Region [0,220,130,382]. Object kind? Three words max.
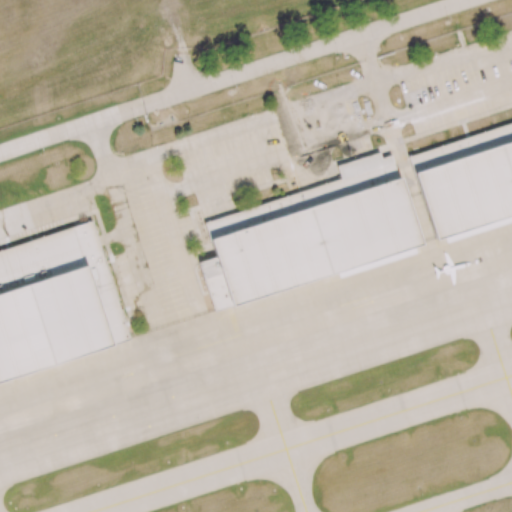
hangar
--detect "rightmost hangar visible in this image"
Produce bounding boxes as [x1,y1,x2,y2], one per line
[410,122,512,243]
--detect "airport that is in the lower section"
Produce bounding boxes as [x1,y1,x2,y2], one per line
[0,223,512,512]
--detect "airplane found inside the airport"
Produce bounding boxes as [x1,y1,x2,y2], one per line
[434,252,470,284]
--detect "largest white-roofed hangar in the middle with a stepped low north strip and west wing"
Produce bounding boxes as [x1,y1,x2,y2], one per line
[200,150,425,310]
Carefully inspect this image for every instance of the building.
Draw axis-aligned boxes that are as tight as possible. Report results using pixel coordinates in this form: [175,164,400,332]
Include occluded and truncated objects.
[0,220,130,382]
[410,122,512,243]
[200,150,425,310]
